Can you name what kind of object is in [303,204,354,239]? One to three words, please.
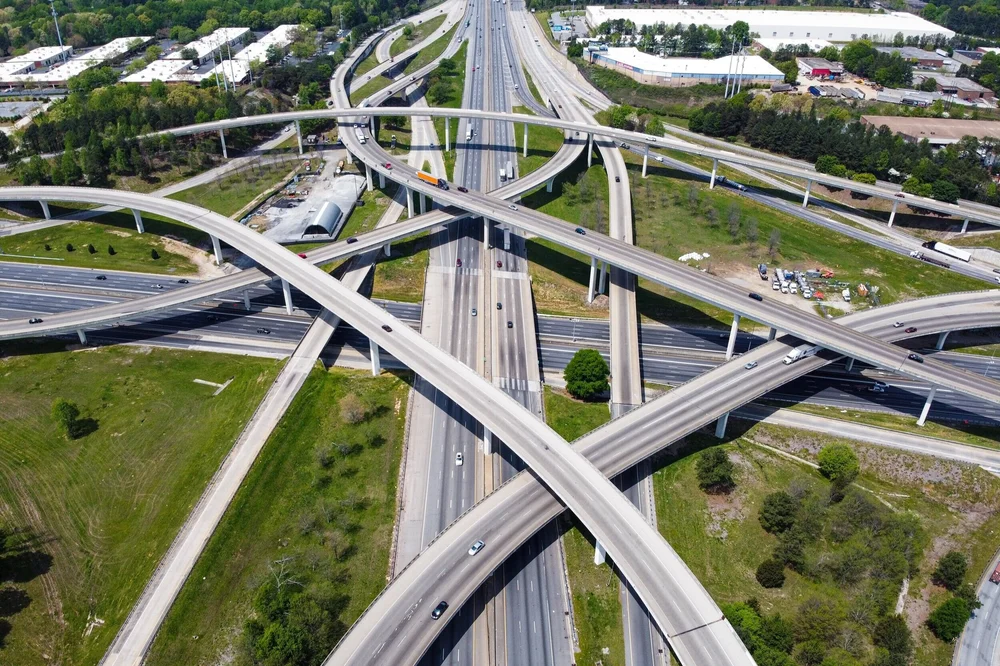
shed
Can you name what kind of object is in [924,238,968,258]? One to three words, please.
vehicle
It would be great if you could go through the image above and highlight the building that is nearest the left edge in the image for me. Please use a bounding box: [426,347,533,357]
[0,46,73,74]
